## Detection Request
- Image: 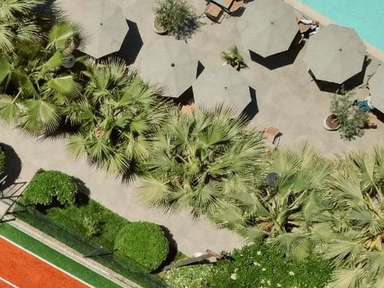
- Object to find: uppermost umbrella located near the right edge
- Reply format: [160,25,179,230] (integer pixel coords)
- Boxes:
[300,21,367,81]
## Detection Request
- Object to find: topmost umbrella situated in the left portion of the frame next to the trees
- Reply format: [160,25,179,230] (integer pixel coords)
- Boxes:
[66,0,129,56]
